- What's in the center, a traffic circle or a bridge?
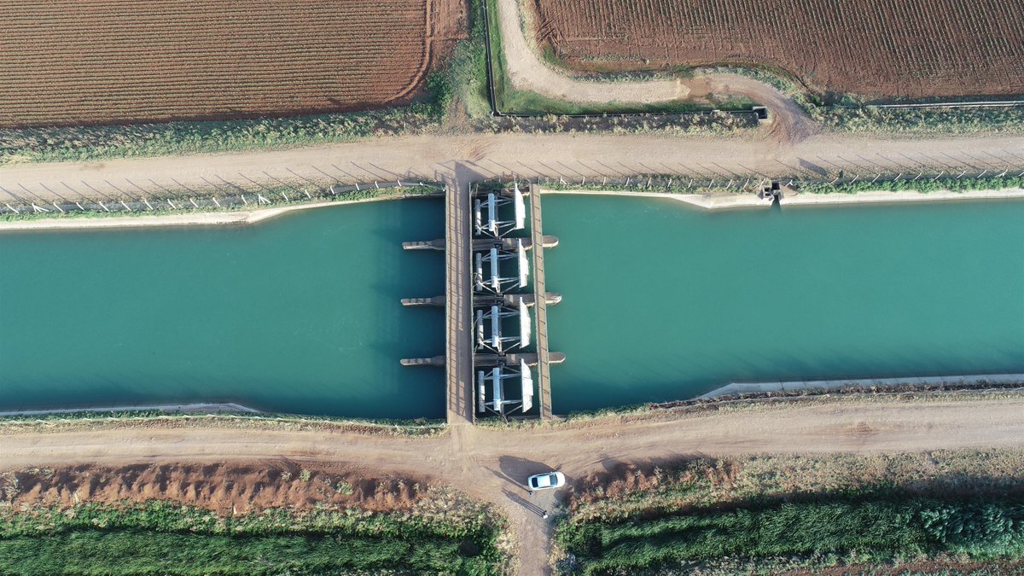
bridge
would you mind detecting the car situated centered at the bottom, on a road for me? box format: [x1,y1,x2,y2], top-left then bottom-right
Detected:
[528,471,566,490]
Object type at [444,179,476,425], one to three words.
bridge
